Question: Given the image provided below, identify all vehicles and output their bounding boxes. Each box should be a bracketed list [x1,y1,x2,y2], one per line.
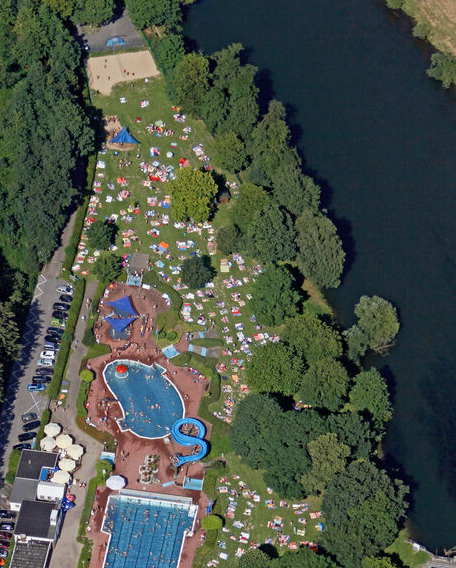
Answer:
[0,547,9,557]
[13,441,32,451]
[53,301,72,311]
[59,294,73,302]
[36,358,55,367]
[33,375,52,383]
[17,431,37,442]
[22,412,37,422]
[35,367,55,376]
[0,521,15,530]
[47,327,64,335]
[44,341,60,350]
[0,531,12,540]
[44,334,62,343]
[0,509,15,518]
[56,285,74,295]
[52,310,68,319]
[40,350,56,358]
[22,420,41,431]
[29,383,44,391]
